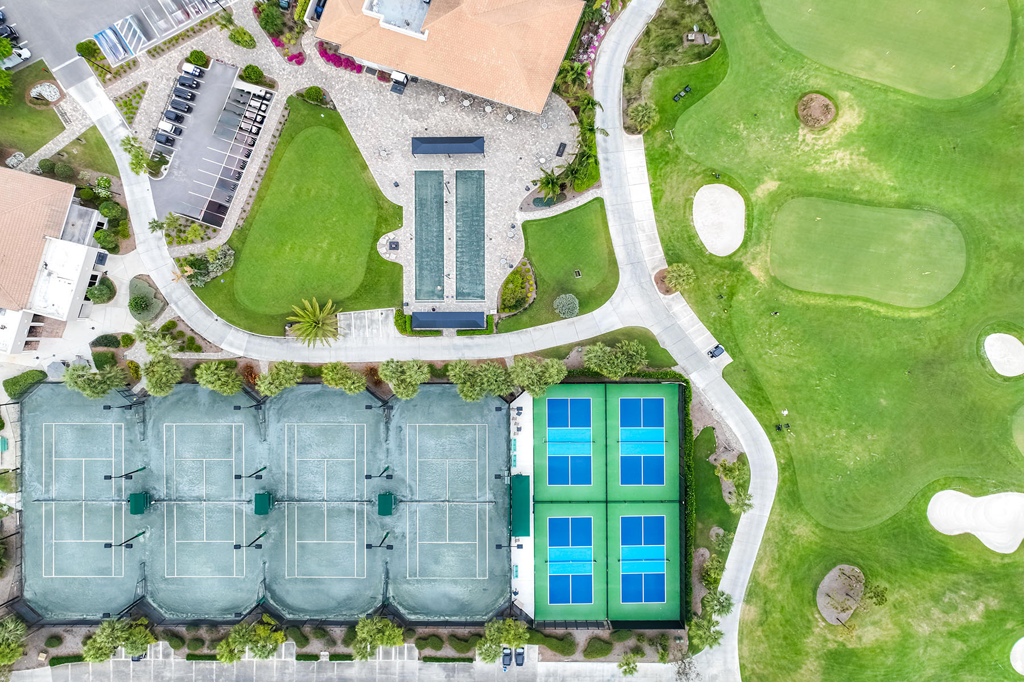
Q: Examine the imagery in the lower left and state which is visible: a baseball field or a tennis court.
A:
tennis court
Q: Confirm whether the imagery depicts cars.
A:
Yes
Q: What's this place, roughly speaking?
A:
golf course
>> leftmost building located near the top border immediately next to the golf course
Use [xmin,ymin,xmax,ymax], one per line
[314,0,587,115]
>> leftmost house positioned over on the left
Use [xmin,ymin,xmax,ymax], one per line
[0,165,110,355]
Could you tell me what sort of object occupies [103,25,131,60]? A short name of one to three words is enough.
car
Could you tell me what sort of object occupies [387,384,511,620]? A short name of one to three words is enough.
tennis court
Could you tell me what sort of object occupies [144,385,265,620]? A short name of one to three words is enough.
tennis court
